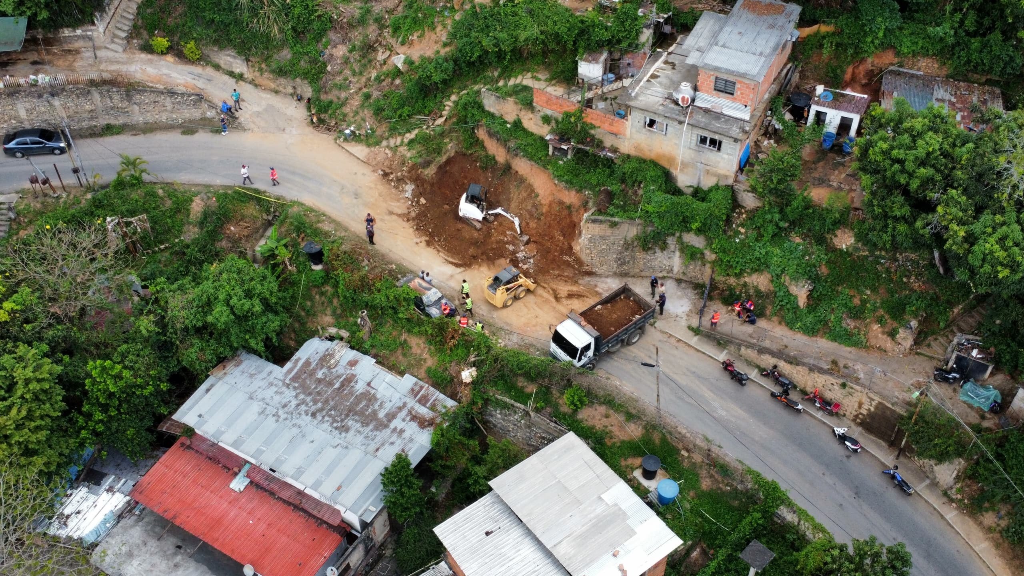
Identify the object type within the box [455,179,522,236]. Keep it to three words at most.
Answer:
work vehicle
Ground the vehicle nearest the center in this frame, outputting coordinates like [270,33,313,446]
[483,260,541,307]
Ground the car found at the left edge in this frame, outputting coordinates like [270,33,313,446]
[0,124,69,156]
